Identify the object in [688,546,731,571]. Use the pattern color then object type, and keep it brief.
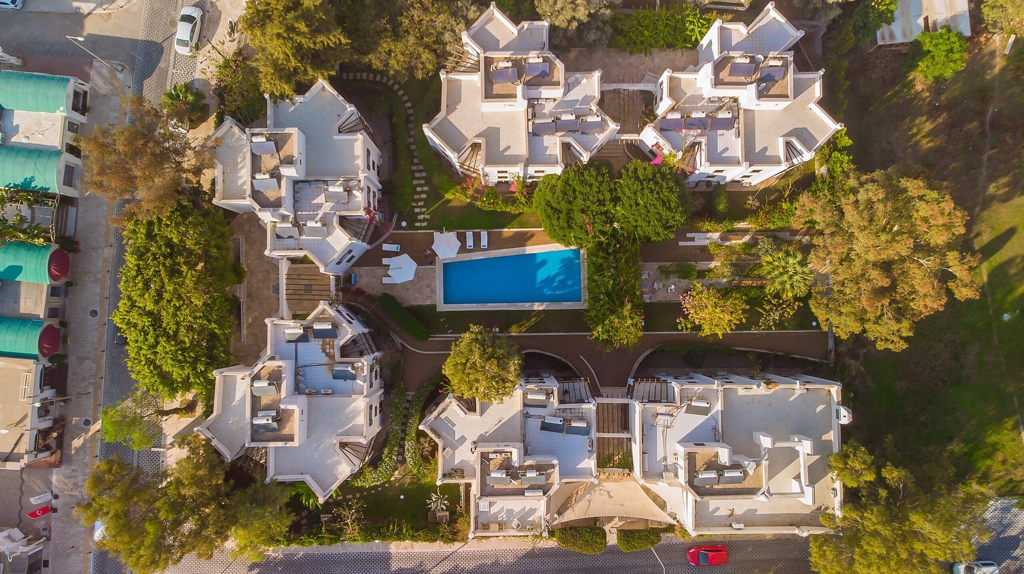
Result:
red car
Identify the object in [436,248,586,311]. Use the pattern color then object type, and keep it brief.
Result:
blue swimming pool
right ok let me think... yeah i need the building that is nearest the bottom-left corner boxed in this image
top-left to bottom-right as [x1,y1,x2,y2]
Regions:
[0,354,63,464]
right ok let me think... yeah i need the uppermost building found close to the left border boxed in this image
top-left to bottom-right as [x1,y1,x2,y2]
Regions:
[0,71,92,123]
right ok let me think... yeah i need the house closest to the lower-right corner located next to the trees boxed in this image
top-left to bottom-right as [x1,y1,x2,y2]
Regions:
[622,363,855,537]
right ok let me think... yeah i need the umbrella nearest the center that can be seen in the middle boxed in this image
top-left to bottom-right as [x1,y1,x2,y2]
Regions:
[432,225,462,260]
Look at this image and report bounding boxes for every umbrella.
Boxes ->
[388,255,418,284]
[432,225,462,260]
